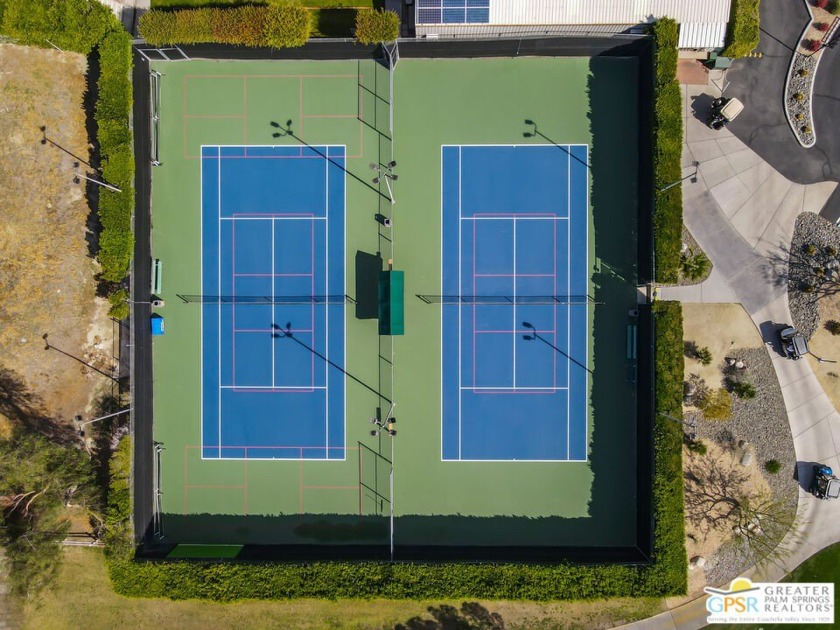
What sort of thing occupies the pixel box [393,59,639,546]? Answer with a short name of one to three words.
tennis court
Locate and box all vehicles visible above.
[706,98,743,134]
[808,465,840,500]
[773,328,806,362]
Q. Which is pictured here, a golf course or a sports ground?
sports ground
